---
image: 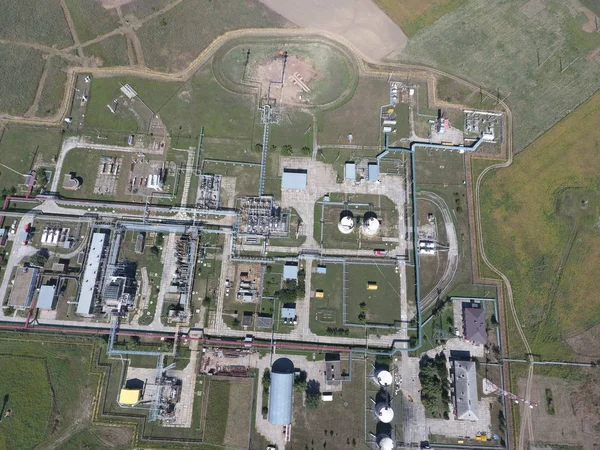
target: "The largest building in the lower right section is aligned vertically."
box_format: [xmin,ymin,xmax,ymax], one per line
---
[450,360,477,418]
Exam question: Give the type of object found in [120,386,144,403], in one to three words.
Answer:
building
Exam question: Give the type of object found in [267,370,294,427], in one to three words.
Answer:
hangar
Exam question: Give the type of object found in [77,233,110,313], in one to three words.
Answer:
building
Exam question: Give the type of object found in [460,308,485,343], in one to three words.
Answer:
house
